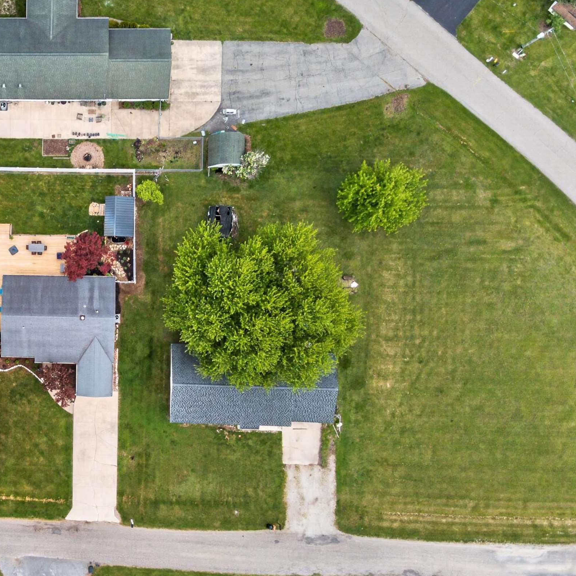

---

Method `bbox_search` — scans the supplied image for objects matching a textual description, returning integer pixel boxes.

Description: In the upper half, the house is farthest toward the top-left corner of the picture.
[0,0,172,101]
